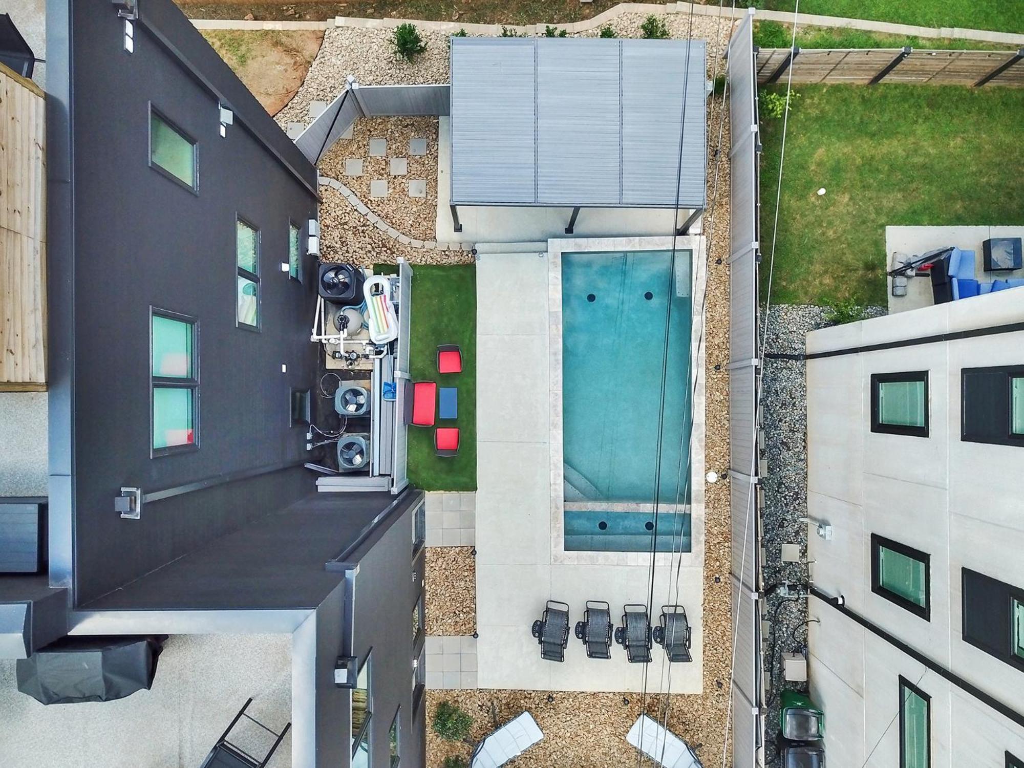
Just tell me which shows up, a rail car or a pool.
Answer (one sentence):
Of the two, only a pool appears.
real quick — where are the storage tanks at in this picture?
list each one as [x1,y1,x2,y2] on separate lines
[337,307,366,338]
